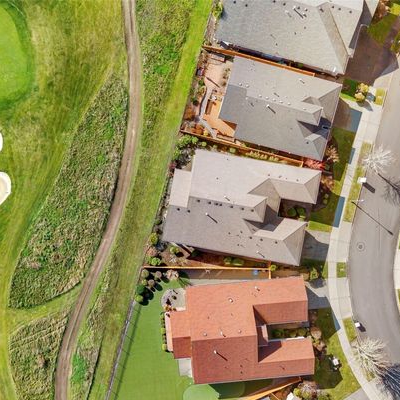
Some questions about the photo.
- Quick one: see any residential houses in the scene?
Yes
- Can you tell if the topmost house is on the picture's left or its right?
right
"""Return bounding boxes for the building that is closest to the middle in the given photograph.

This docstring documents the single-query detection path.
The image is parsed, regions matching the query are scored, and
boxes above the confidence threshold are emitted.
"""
[162,149,321,266]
